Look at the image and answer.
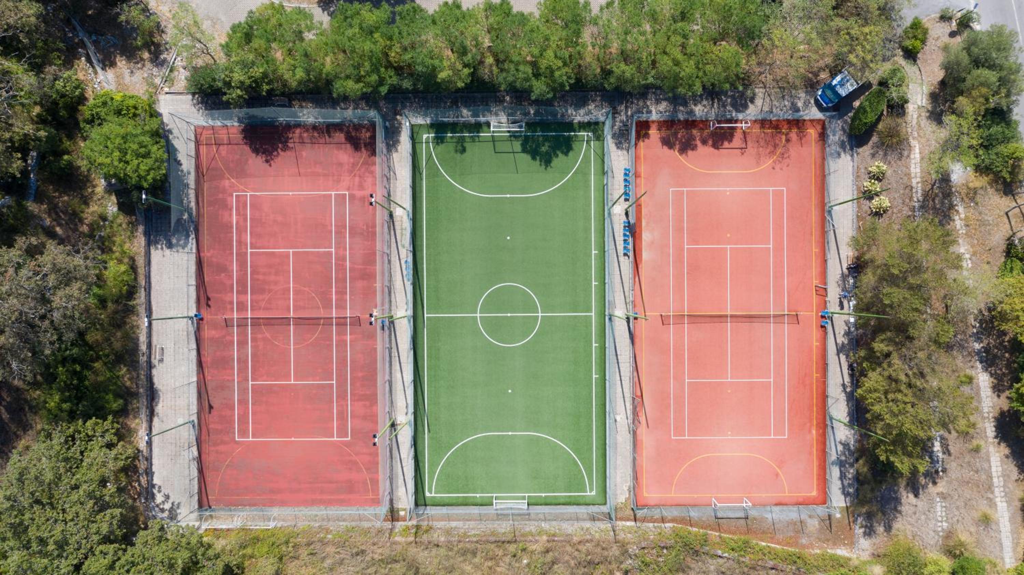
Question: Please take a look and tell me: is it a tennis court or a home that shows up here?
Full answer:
Visible in the photo is a tennis court.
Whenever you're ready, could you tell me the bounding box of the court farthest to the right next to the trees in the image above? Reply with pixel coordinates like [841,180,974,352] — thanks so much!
[635,119,828,506]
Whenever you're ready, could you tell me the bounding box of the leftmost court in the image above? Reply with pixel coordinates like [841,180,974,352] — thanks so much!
[195,125,383,508]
